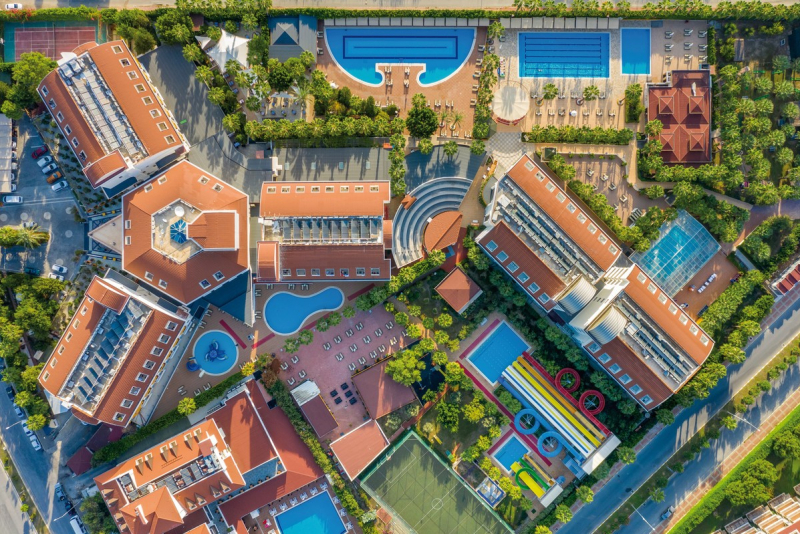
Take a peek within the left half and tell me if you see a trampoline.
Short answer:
No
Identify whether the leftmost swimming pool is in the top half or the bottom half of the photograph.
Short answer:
bottom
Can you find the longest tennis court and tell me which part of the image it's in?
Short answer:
top left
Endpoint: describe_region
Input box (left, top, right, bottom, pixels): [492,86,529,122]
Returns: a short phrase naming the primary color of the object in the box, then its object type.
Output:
white umbrella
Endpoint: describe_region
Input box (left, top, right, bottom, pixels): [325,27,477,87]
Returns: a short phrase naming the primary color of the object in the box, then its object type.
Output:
blue swimming pool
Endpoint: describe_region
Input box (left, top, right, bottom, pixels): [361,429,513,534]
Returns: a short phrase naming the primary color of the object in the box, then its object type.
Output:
green soccer field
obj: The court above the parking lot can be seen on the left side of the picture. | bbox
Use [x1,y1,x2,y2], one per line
[5,16,107,63]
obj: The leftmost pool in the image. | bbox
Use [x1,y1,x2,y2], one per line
[190,328,239,378]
